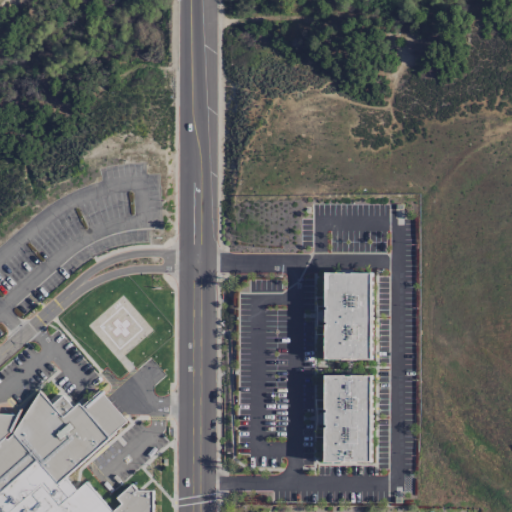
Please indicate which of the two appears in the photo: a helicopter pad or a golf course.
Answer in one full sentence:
I can see a helicopter pad in this picture.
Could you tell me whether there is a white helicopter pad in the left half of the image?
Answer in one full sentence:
Yes, looking in the left half of the image, one can make out a white helicopter pad.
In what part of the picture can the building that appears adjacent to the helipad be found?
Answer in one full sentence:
The building that appears adjacent to the helipad appears toward the bottom left of the photo.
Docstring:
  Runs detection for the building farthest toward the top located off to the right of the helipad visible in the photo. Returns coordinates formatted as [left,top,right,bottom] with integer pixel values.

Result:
[324,272,375,360]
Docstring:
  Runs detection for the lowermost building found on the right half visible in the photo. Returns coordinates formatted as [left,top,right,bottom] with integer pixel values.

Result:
[324,374,375,461]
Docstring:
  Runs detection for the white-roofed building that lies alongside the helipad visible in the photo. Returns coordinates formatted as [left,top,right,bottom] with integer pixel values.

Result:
[0,392,130,512]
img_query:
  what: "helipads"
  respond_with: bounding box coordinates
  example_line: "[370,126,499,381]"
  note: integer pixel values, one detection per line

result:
[90,295,154,372]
